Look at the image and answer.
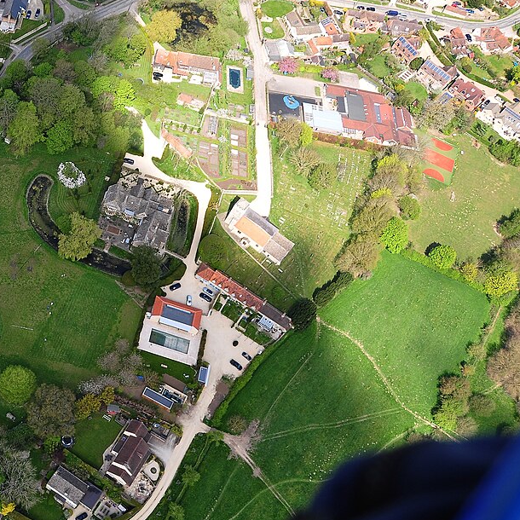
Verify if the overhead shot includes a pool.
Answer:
Yes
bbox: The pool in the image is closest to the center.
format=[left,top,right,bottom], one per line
[149,329,190,354]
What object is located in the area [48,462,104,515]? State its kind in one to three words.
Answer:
house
